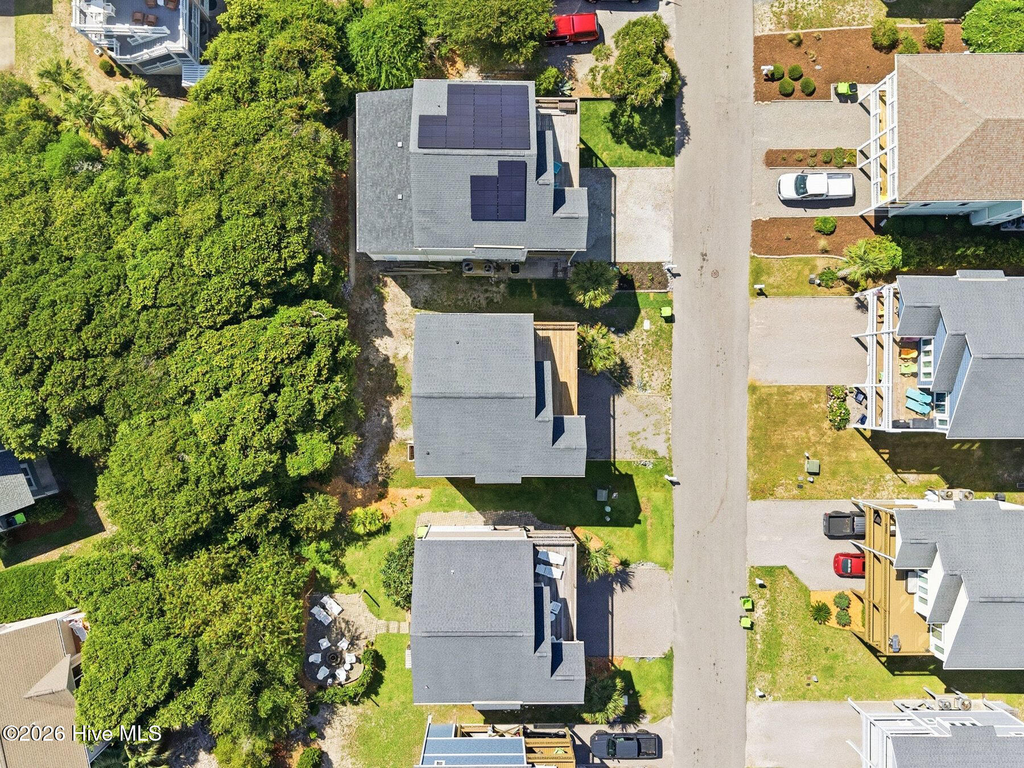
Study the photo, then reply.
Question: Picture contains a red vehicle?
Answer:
Yes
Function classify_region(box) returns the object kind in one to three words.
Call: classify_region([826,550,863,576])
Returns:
car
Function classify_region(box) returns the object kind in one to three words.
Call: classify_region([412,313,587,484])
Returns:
house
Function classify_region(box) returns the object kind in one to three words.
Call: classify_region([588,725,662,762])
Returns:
truck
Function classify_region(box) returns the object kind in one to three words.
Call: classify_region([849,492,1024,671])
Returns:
house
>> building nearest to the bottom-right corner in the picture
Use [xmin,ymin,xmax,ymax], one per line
[846,695,1024,768]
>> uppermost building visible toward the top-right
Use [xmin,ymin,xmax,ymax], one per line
[856,53,1024,228]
